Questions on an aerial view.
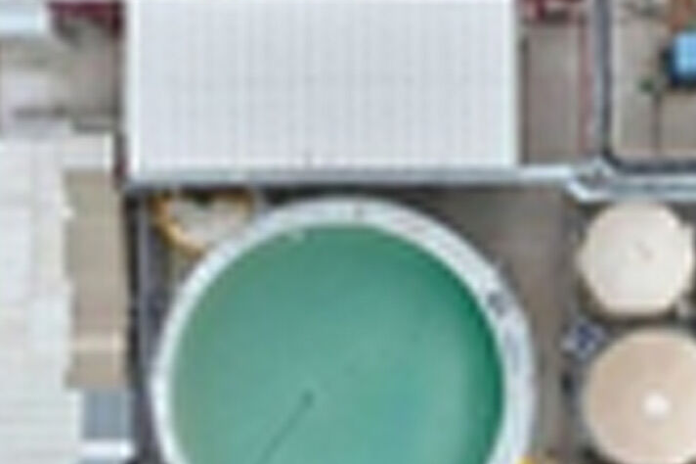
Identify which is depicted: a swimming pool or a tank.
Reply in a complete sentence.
Visible in the photo is a tank.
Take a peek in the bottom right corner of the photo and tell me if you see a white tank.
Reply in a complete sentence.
Yes, you'll find a white tank in the bottom right corner of the photo.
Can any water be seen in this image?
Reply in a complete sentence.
Yes, the picture does contain water.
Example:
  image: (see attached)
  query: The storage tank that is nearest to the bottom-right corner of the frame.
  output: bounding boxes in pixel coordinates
[578,324,696,464]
